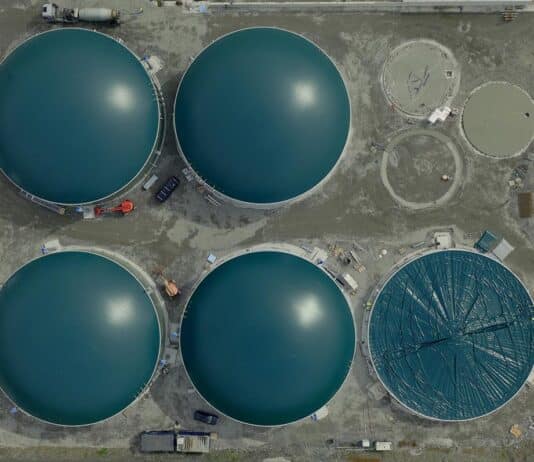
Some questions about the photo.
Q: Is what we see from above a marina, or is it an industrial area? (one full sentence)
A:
What you see here is an industrial area.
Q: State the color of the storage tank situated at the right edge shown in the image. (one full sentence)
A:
The storage tank situated at the right edge is blue.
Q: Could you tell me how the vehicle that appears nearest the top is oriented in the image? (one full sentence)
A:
From this overhead view, the vehicle that appears nearest the top appears to run horizontally.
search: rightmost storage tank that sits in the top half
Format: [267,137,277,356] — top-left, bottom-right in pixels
[172,27,353,209]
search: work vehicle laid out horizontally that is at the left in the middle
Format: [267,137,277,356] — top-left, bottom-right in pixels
[96,200,135,216]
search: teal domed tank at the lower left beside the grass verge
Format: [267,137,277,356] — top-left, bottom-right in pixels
[0,246,168,427]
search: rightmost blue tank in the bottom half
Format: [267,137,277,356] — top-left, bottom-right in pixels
[362,245,534,422]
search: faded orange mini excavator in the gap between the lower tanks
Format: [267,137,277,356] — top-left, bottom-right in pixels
[156,269,178,296]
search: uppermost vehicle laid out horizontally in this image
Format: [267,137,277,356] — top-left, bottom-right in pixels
[41,3,120,22]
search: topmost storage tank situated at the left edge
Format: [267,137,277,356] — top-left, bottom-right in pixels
[0,27,167,210]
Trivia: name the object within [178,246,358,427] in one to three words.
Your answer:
storage tank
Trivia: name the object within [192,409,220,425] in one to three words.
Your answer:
car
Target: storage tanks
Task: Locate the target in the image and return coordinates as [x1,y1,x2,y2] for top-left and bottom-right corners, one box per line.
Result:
[362,245,534,422]
[172,27,353,209]
[178,246,358,427]
[0,246,168,427]
[0,27,167,210]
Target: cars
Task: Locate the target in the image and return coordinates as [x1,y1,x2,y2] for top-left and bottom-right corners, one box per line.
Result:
[192,409,220,425]
[154,176,181,203]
